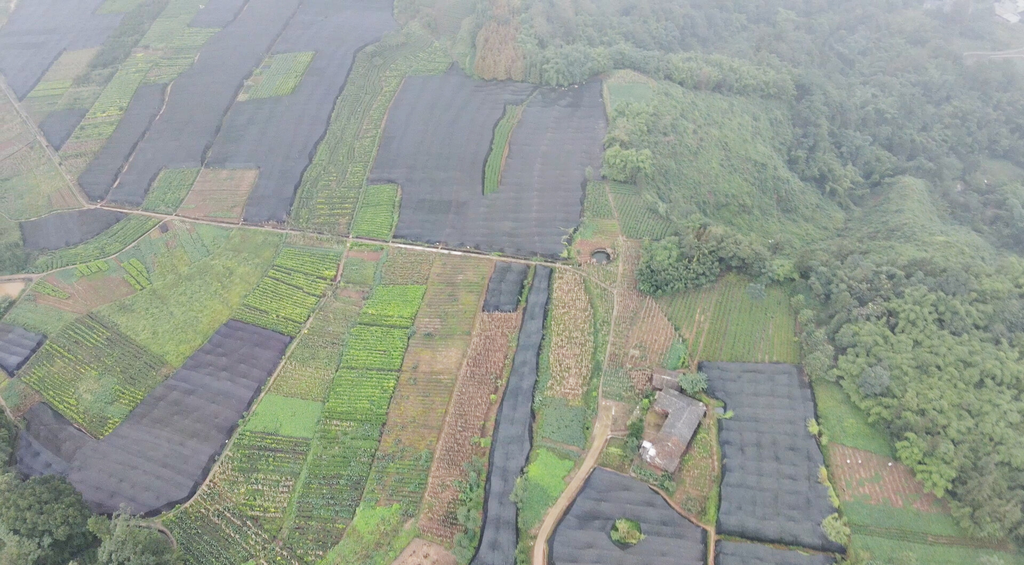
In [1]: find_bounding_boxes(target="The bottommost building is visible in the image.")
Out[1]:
[636,387,709,481]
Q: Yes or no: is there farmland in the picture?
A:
Yes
